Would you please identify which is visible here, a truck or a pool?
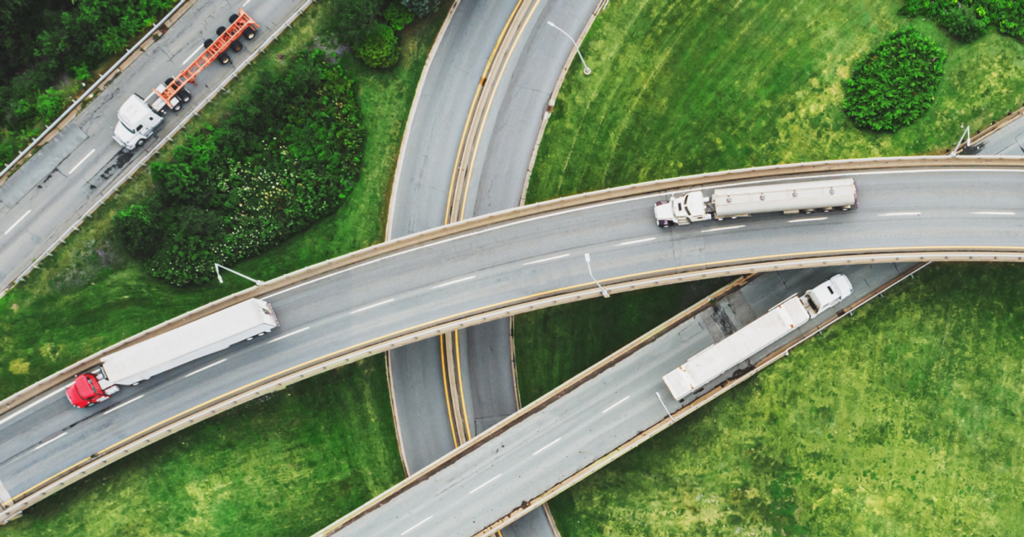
truck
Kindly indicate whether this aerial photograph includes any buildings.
No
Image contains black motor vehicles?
No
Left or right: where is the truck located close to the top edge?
left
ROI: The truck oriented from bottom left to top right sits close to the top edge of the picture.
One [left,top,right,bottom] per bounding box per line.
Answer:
[114,4,257,151]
